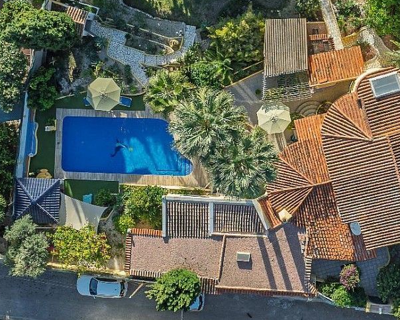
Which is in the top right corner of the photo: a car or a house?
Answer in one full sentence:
There is a house in the top right corner of the photo.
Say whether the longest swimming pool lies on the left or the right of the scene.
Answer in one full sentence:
The longest swimming pool appears in the left half of the scene.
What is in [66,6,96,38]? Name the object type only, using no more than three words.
house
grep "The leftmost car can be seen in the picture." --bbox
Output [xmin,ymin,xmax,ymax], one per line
[77,274,128,302]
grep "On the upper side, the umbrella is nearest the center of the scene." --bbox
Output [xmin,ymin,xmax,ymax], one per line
[257,102,292,136]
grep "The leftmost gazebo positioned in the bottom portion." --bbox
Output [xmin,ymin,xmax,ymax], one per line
[12,177,67,225]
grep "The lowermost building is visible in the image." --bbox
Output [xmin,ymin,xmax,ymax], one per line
[122,221,322,304]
